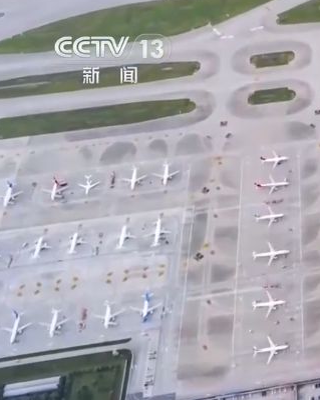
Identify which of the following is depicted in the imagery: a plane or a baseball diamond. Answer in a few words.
plane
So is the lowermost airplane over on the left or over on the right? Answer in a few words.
right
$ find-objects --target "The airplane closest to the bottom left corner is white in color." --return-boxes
[0,311,32,342]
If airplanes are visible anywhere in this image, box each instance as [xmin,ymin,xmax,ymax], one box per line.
[79,174,101,195]
[132,294,163,321]
[142,218,171,246]
[122,168,148,189]
[58,233,87,254]
[0,311,32,342]
[261,149,288,167]
[22,237,52,258]
[154,163,179,184]
[255,205,284,227]
[93,302,124,329]
[42,178,69,199]
[254,332,288,363]
[253,289,285,316]
[39,309,70,337]
[107,226,135,247]
[0,184,23,205]
[256,174,289,194]
[253,240,290,265]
